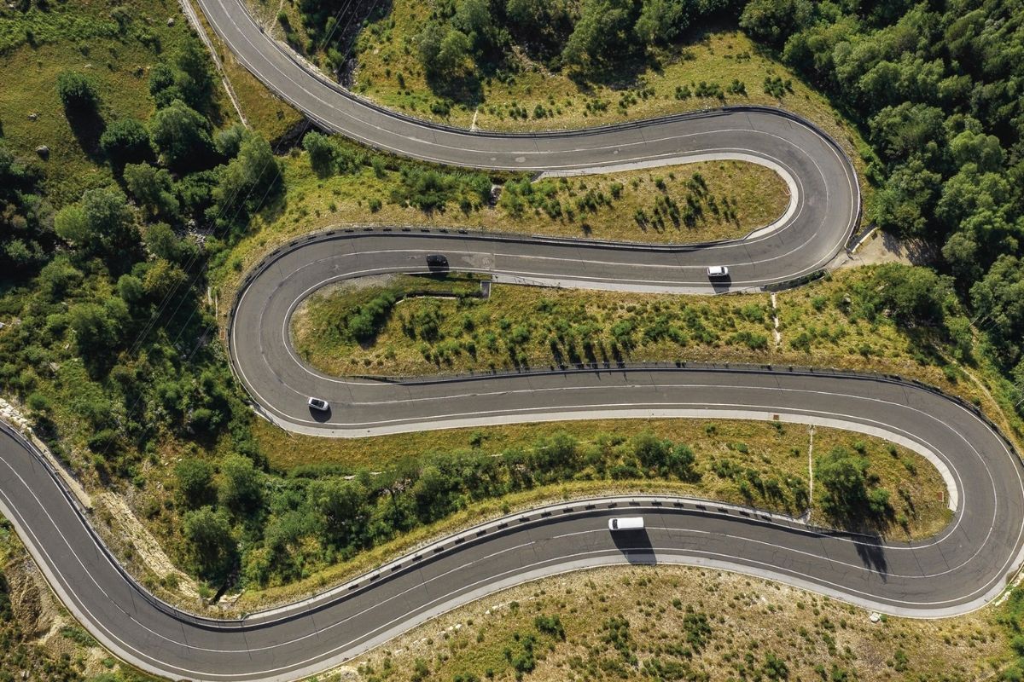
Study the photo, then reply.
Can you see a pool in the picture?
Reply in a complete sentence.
No, I find no pool anywhere in the image.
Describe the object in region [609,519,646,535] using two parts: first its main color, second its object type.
white vehicle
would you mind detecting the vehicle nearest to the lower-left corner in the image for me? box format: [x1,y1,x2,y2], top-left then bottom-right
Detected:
[306,396,329,411]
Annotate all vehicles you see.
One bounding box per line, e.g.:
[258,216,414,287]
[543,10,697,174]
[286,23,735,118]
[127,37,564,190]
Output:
[426,254,447,265]
[306,396,329,411]
[708,265,730,276]
[609,519,646,535]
